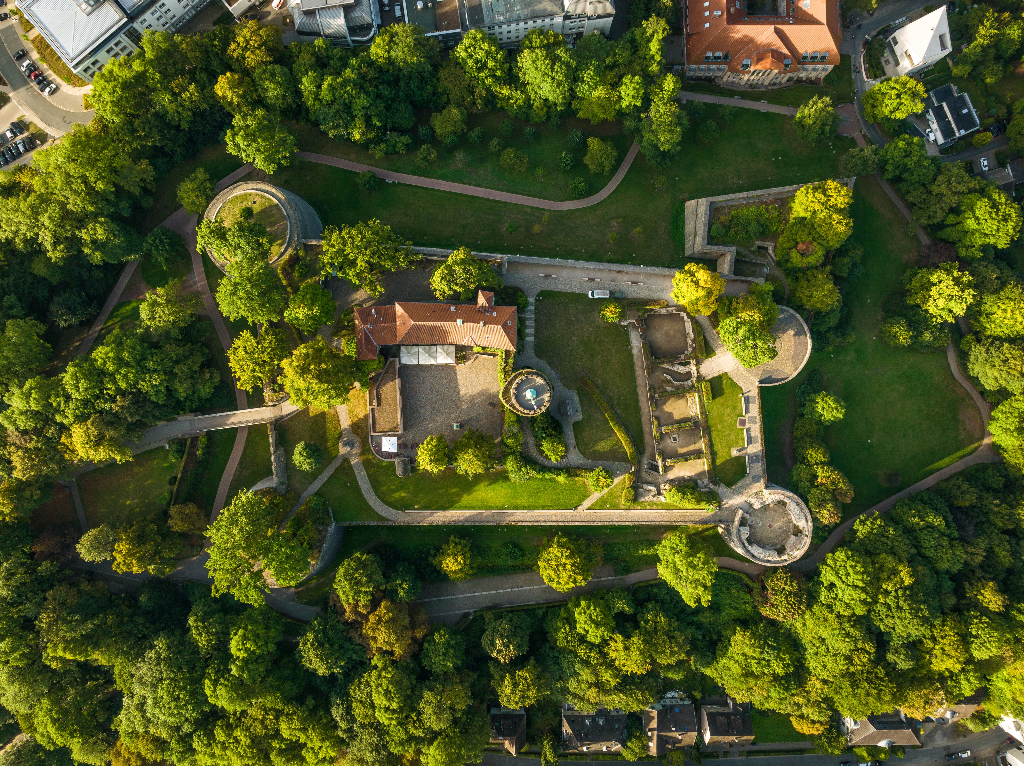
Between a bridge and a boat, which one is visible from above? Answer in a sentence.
I can see a bridge in this picture.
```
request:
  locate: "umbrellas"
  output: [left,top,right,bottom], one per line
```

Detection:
[382,437,397,452]
[400,345,418,364]
[437,345,455,364]
[419,345,437,364]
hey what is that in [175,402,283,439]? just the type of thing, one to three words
bridge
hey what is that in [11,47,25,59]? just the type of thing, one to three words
vehicle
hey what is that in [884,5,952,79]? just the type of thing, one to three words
house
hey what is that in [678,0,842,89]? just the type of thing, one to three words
building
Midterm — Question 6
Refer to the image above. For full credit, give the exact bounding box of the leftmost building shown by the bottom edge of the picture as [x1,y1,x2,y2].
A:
[490,705,526,755]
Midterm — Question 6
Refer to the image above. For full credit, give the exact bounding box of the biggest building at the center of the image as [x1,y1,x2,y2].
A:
[354,291,517,361]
